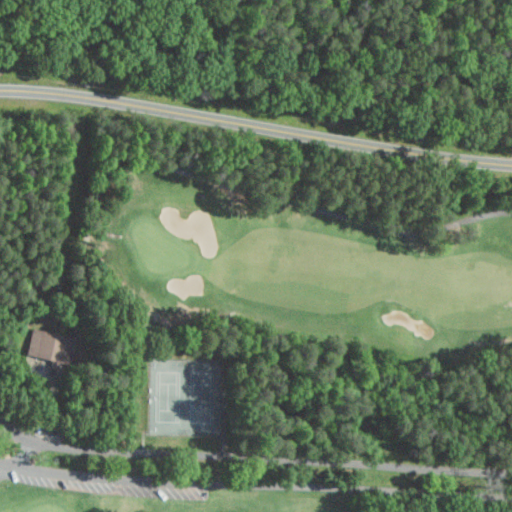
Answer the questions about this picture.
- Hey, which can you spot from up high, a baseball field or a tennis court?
tennis court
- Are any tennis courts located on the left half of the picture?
Yes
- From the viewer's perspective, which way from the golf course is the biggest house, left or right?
to its left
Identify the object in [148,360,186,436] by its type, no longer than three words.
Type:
tennis court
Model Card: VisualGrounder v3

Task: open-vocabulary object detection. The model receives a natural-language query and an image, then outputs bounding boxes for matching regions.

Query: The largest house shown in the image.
[27,330,64,362]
